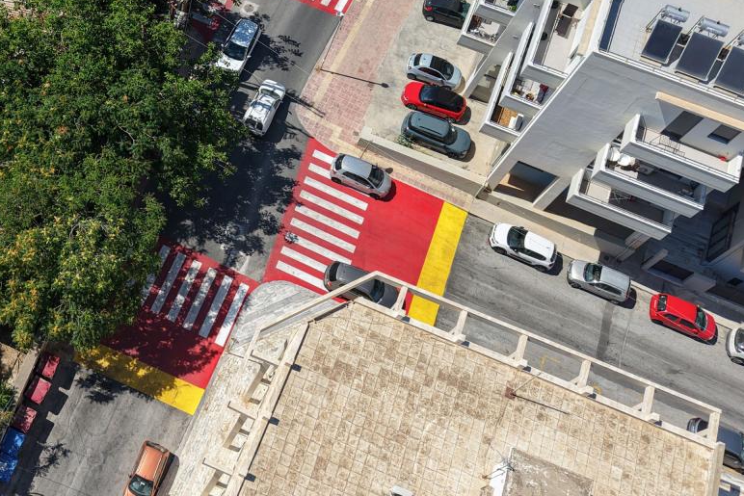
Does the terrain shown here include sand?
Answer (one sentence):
No, sand can't be seen anywhere here.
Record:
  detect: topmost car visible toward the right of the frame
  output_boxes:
[421,0,472,28]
